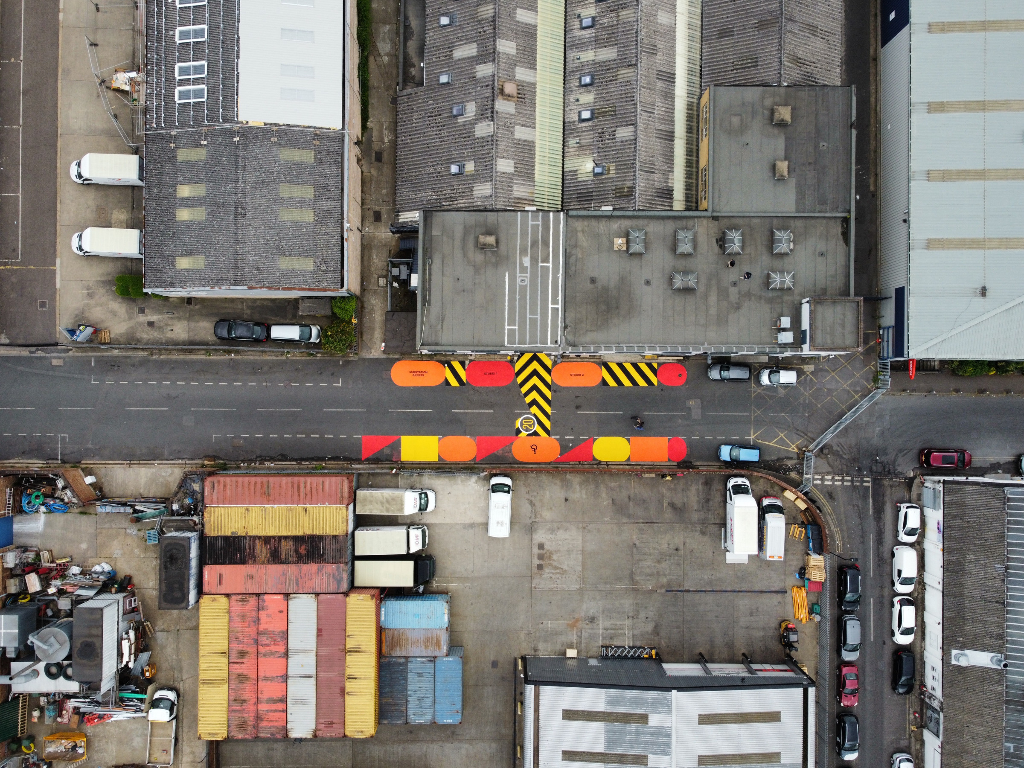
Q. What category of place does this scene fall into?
industrial area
